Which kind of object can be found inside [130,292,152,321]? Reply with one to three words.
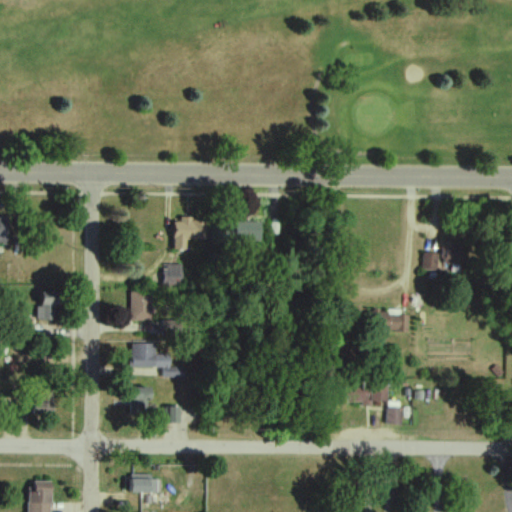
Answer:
house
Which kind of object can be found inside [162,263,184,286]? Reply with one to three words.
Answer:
house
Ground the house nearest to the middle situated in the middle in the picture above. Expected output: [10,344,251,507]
[236,220,263,236]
